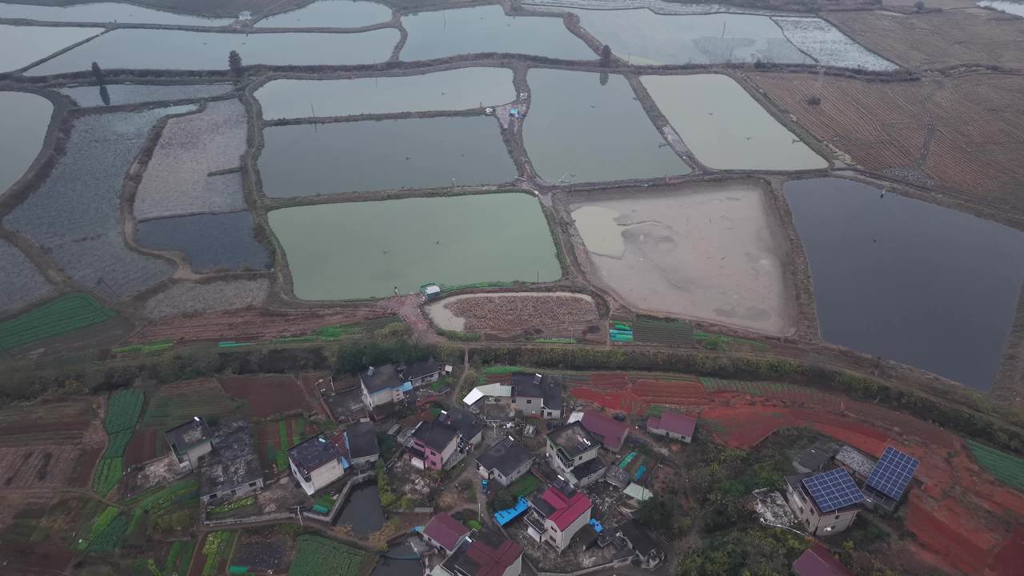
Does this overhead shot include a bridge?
No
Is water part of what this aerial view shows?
Yes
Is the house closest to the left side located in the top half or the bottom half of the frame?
bottom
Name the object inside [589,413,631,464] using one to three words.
barn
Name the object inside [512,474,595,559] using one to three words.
house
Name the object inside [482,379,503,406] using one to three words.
shed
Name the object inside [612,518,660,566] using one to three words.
shed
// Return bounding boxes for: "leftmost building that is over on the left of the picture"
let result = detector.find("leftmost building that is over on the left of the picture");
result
[160,417,214,477]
